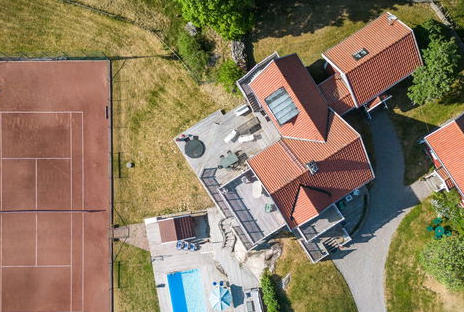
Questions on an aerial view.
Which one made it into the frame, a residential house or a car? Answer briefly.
residential house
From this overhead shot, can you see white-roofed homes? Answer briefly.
No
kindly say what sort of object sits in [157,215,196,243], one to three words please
shed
